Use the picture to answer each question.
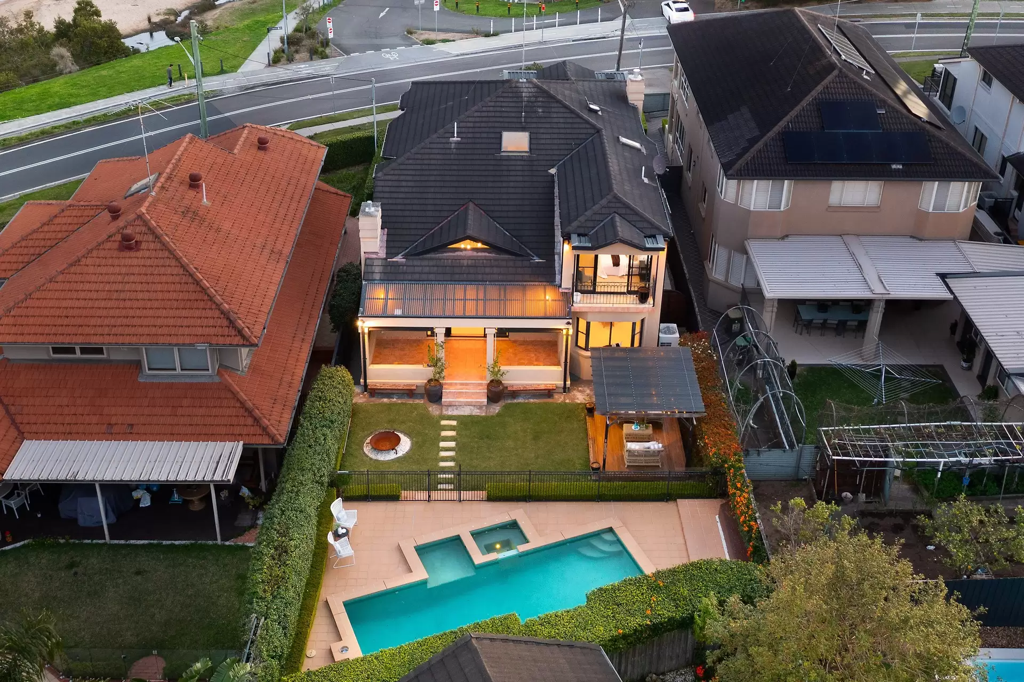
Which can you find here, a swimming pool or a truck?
swimming pool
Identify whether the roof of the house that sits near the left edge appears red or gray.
red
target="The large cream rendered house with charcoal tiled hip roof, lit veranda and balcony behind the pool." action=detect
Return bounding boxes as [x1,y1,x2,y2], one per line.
[357,57,674,404]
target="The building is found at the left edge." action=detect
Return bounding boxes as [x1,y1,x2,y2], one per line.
[0,123,353,542]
